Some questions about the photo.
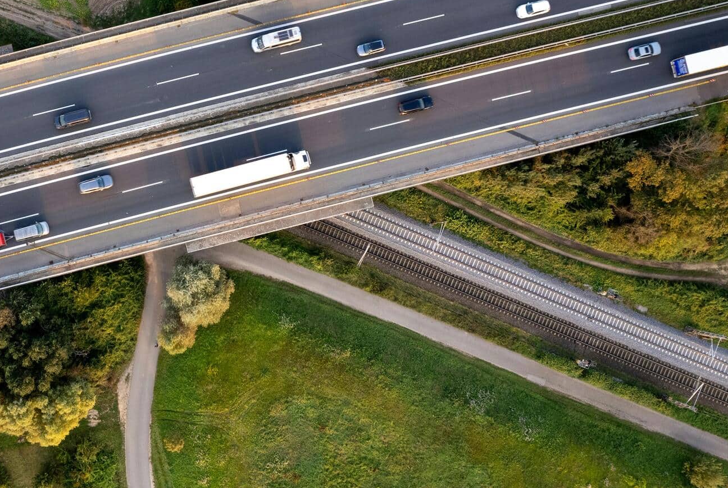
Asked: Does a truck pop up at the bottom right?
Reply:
No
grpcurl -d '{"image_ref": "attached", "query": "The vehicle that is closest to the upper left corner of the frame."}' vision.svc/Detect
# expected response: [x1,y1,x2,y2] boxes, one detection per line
[55,109,92,129]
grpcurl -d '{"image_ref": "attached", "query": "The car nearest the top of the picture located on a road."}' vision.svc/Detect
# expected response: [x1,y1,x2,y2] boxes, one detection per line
[514,1,549,20]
